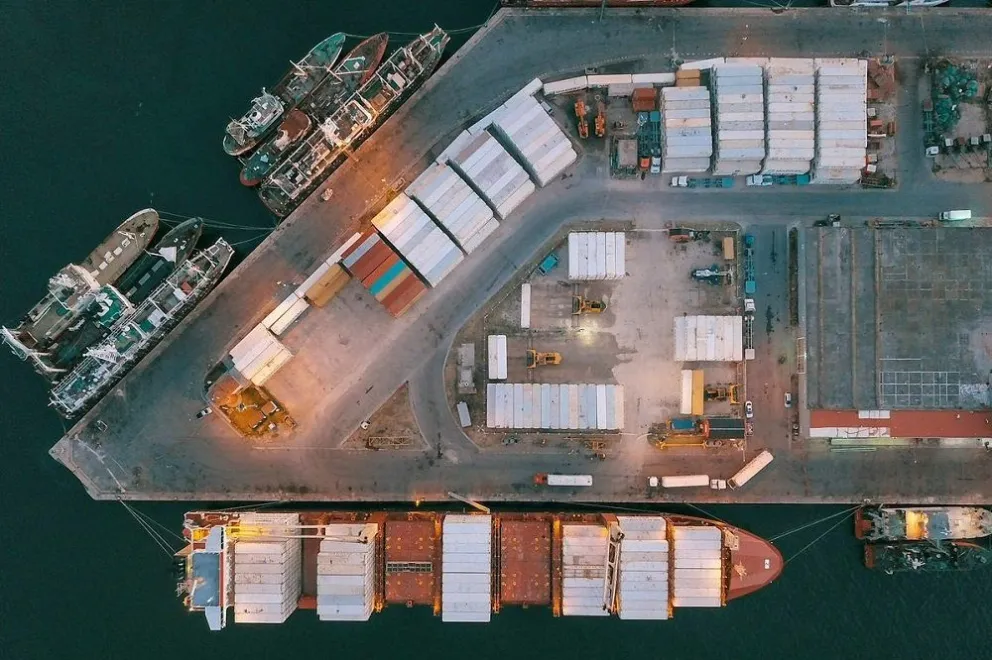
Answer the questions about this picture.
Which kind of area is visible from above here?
port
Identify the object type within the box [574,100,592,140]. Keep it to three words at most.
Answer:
work vehicle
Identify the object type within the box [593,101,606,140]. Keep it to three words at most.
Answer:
vehicle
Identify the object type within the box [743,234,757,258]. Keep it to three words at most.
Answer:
vehicle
